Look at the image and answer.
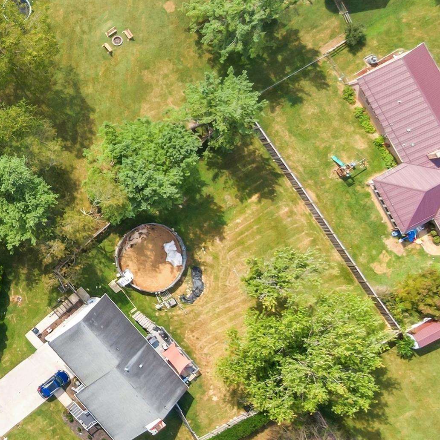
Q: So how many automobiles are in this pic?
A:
1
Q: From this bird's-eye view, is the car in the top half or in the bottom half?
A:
bottom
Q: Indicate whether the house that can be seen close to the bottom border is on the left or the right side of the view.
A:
left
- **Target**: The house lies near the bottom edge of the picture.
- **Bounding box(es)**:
[46,294,188,440]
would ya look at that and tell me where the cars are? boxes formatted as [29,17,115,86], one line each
[37,370,71,400]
